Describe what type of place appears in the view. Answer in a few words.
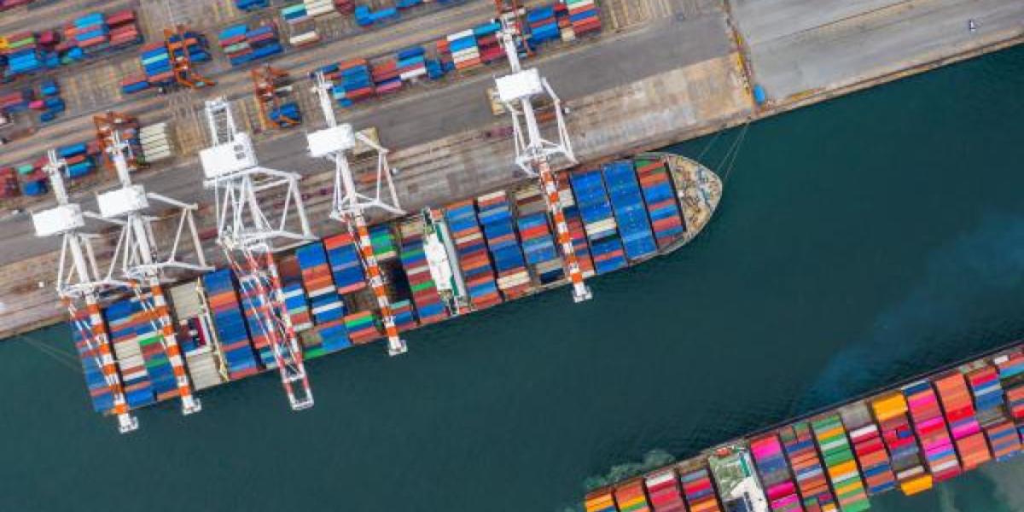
port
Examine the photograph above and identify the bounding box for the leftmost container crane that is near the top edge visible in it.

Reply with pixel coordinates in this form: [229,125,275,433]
[157,19,219,91]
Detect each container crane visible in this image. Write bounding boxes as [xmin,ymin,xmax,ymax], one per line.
[490,20,591,302]
[96,133,225,415]
[34,151,167,433]
[97,107,161,175]
[157,19,219,91]
[256,61,314,131]
[198,98,328,410]
[303,74,416,356]
[496,0,545,63]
